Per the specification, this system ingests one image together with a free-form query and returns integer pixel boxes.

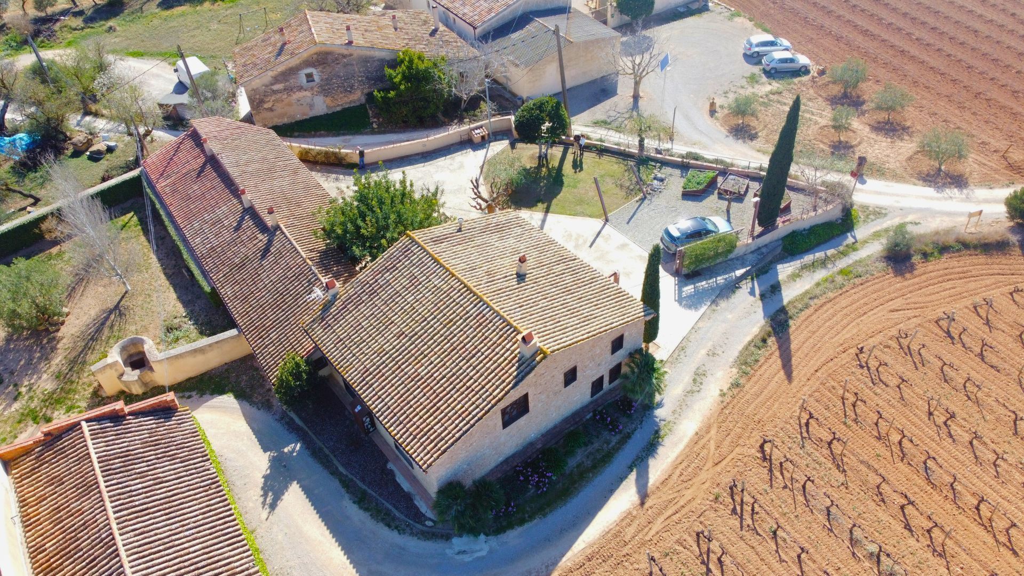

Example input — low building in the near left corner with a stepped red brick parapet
[0,385,260,576]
